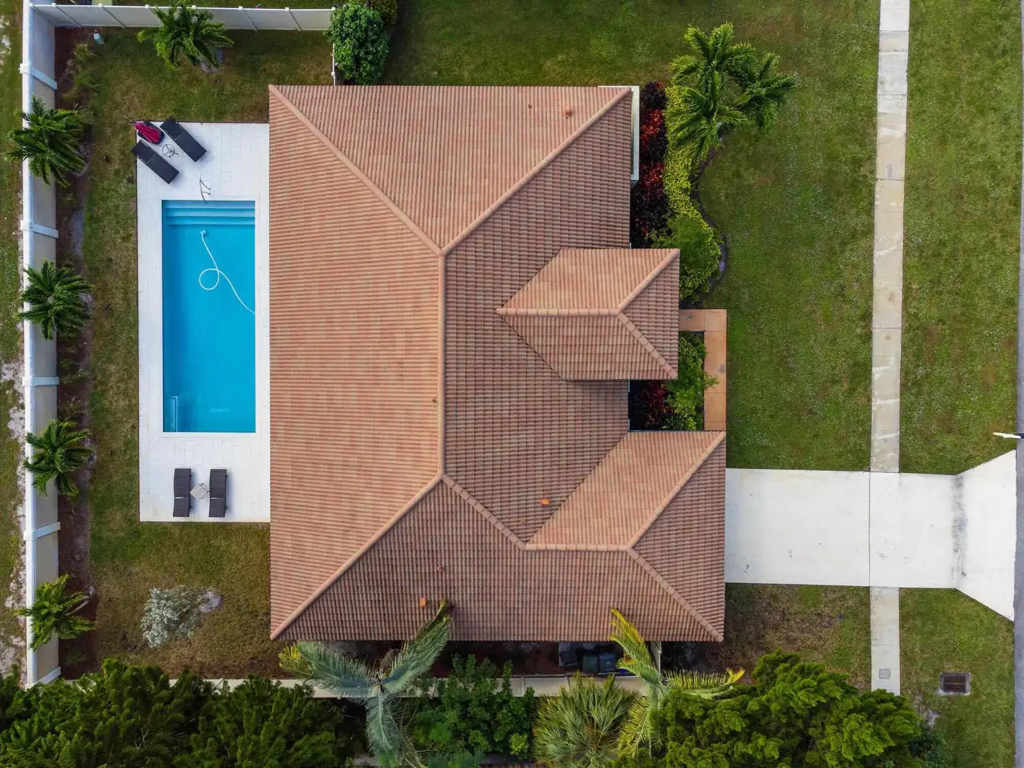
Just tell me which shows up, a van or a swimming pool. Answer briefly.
swimming pool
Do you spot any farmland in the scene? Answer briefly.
No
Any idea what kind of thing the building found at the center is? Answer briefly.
residential house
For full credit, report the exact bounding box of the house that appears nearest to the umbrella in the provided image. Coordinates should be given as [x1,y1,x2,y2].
[265,84,728,643]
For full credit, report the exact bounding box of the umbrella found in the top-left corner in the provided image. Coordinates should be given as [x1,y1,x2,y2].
[124,117,160,143]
